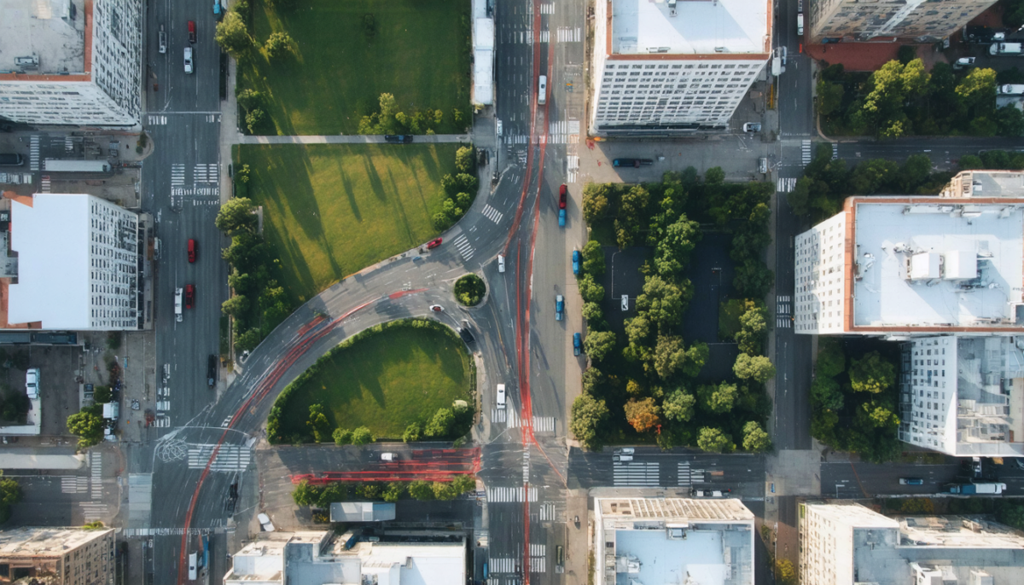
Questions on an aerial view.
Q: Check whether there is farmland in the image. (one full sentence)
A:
No, the scene doesn't show any farmland.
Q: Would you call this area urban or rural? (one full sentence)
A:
The land in this view is best described as urban.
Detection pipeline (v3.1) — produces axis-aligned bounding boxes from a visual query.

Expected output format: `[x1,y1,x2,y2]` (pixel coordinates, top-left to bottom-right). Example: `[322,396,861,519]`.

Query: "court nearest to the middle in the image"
[604,245,653,322]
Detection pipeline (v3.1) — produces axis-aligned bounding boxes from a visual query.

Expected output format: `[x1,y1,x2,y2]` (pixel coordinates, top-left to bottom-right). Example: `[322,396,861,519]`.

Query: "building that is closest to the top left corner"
[0,0,141,129]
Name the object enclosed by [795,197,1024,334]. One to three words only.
building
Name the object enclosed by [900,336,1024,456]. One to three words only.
building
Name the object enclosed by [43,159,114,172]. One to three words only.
vehicle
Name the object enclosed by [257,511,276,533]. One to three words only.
car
